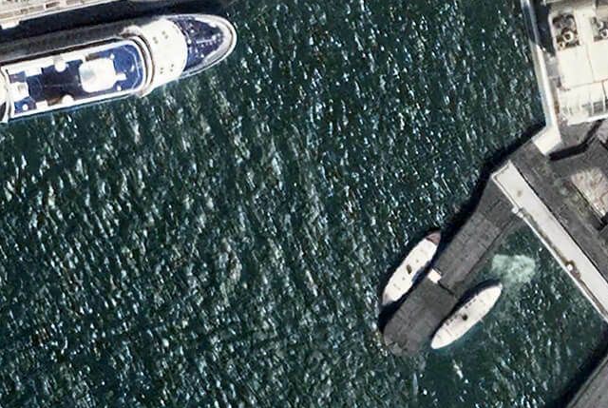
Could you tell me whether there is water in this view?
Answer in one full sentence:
Yes, there is water in the image.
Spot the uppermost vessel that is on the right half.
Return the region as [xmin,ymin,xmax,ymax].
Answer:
[384,232,439,302]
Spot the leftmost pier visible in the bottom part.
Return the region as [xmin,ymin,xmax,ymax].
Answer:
[383,175,521,353]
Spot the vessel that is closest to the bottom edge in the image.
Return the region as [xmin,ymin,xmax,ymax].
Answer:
[433,282,501,346]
